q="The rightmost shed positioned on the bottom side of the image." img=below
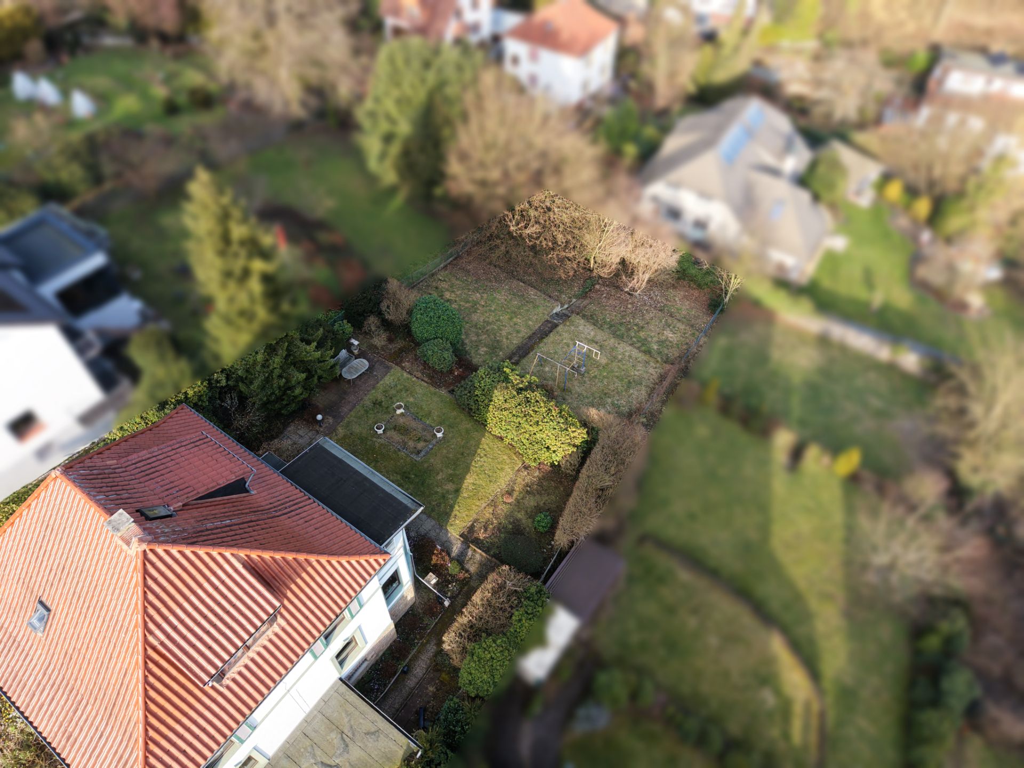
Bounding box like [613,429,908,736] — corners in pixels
[544,537,625,626]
